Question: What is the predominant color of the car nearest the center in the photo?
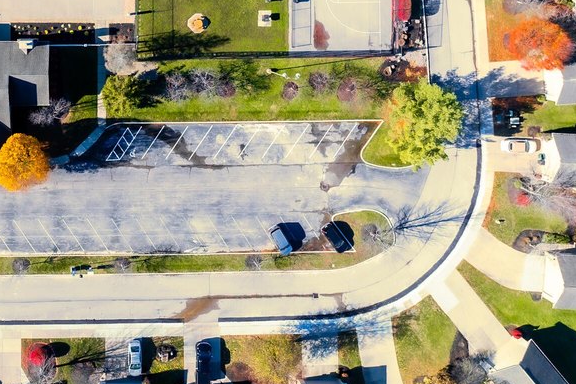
blue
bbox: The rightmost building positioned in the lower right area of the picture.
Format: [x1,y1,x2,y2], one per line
[543,250,576,309]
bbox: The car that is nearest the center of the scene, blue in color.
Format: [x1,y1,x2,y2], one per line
[270,224,295,257]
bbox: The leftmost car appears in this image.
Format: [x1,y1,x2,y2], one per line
[127,343,143,378]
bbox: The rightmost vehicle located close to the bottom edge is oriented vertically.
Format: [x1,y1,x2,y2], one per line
[197,344,215,384]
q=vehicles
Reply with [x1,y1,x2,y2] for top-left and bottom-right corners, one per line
[500,138,539,156]
[321,223,351,256]
[197,344,215,384]
[270,224,295,257]
[127,343,143,378]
